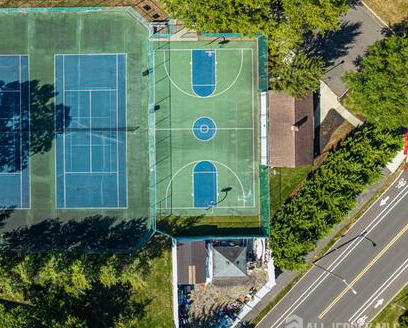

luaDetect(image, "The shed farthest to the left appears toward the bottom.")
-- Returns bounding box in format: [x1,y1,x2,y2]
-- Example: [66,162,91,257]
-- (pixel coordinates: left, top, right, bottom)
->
[174,239,207,284]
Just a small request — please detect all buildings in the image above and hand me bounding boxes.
[263,89,314,167]
[212,245,247,284]
[174,239,207,284]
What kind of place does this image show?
sports ground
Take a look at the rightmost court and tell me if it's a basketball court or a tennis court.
basketball court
